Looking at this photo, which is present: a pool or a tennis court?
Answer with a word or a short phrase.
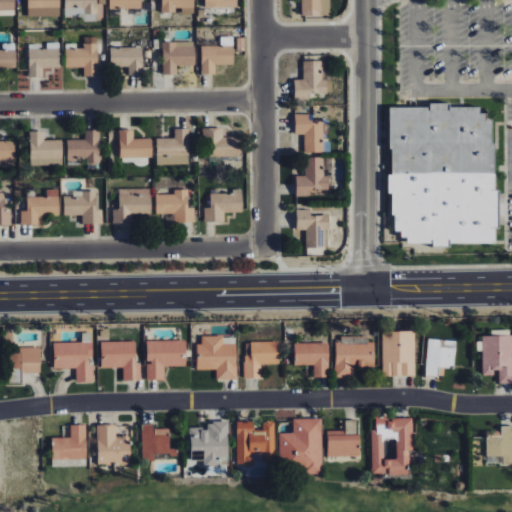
pool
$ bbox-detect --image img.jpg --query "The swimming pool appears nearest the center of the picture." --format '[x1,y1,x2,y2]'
[194,324,236,344]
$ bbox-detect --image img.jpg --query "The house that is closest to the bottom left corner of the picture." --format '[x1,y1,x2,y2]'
[52,425,87,468]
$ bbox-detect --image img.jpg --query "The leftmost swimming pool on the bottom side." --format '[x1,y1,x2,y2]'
[13,330,42,347]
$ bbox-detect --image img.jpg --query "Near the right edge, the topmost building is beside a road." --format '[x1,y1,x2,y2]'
[388,102,500,247]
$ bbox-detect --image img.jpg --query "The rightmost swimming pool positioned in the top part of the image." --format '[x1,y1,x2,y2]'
[164,28,194,42]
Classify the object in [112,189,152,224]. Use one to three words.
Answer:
house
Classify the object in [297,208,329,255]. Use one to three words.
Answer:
house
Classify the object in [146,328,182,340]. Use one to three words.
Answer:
swimming pool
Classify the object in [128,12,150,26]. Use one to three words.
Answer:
swimming pool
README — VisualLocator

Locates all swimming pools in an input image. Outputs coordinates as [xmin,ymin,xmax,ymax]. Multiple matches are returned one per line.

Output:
[194,324,236,344]
[60,178,86,195]
[164,28,194,42]
[150,459,180,476]
[146,328,182,340]
[278,422,293,433]
[385,441,396,460]
[13,330,42,347]
[52,328,93,343]
[0,32,14,43]
[128,12,150,26]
